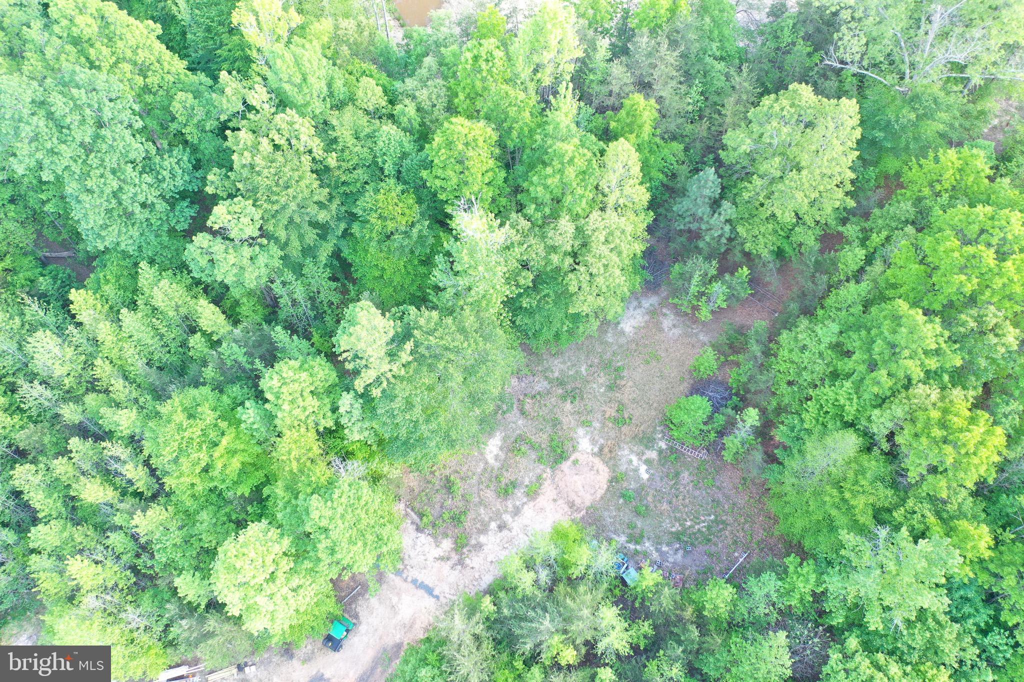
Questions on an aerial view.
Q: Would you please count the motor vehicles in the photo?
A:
1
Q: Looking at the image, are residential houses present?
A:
No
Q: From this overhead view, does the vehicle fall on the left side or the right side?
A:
left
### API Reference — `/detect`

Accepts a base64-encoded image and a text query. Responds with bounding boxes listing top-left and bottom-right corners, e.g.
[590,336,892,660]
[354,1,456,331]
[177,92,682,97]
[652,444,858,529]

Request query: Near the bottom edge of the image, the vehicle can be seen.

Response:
[322,616,357,655]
